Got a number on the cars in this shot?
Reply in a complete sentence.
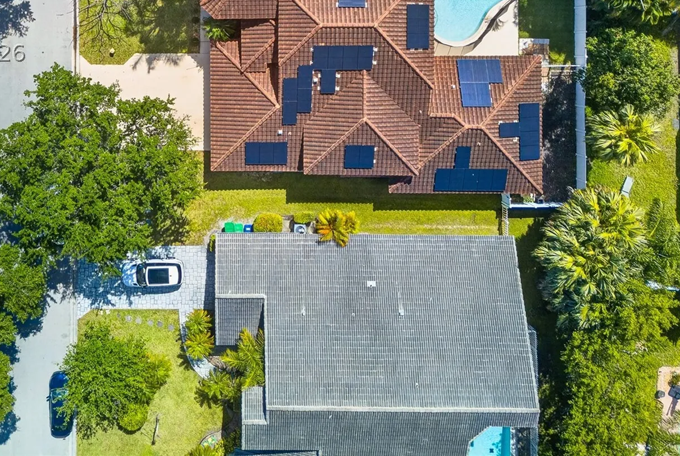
The picture shows 2 cars.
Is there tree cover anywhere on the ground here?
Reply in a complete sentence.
Yes, some tree cover is visible.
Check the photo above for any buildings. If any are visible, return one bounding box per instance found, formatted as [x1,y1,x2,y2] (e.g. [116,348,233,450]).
[213,232,542,456]
[200,0,545,196]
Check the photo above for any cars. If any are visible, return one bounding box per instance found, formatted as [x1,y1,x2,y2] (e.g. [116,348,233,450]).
[121,258,185,293]
[45,370,78,440]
